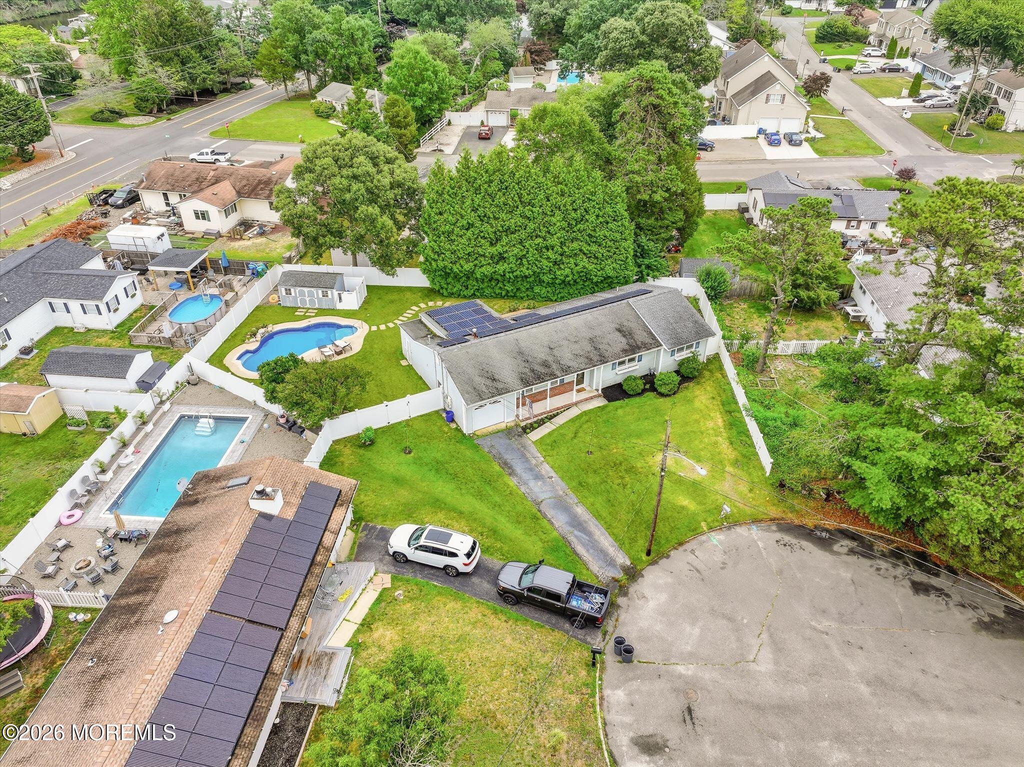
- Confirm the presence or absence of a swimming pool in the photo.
Yes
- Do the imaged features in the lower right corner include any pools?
No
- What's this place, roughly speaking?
residential area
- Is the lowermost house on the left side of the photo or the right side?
left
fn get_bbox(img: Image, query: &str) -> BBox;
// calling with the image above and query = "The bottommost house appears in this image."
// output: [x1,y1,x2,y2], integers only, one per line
[0,447,361,767]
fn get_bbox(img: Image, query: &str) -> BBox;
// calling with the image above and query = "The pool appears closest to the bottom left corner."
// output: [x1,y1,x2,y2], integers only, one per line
[100,412,250,520]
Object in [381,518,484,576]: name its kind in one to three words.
car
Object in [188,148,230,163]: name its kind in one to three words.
vehicle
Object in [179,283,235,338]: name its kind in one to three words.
swimming pool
